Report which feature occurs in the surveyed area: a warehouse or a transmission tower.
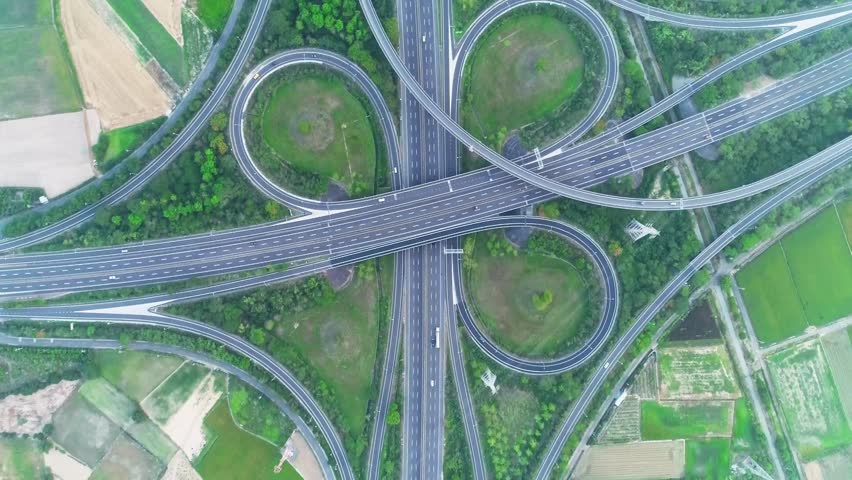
transmission tower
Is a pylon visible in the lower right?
Yes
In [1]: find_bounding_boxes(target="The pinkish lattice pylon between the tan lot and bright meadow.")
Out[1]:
[272,443,297,472]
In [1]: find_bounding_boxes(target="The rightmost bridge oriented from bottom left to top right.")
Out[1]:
[688,229,734,271]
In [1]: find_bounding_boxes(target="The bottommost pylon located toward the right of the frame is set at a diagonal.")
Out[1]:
[740,454,785,480]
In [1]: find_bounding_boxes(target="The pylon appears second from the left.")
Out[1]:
[479,367,500,394]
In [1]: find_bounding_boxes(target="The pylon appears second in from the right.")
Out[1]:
[623,218,662,242]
